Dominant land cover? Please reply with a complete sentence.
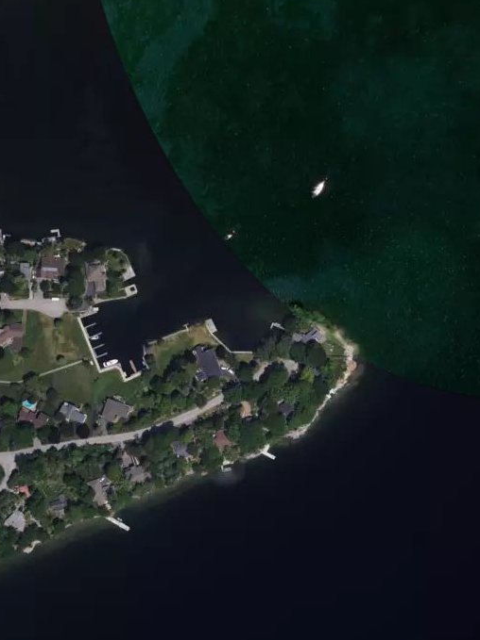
What you mostly see from above here is water.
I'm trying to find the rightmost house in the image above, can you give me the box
[292,327,327,346]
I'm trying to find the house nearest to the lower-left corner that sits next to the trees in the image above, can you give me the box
[3,507,25,533]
